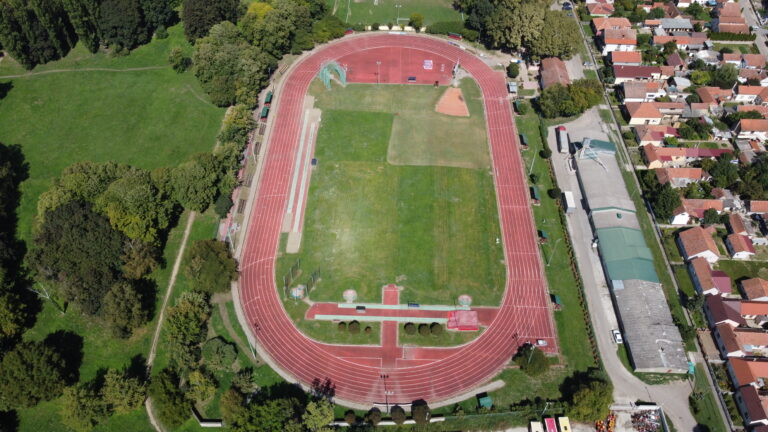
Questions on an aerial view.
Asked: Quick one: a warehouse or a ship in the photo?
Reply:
warehouse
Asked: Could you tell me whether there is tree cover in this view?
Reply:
Yes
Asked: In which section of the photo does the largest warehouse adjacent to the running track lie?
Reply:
right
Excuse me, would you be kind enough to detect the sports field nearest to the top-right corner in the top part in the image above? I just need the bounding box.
[436,71,472,116]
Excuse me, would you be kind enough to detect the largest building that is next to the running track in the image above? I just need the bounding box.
[569,136,691,379]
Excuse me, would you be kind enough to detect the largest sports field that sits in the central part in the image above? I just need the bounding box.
[274,46,507,368]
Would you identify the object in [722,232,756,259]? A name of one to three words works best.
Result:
house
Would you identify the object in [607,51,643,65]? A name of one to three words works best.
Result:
house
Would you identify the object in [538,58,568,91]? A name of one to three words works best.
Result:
building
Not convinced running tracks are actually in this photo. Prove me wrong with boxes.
[226,30,561,419]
